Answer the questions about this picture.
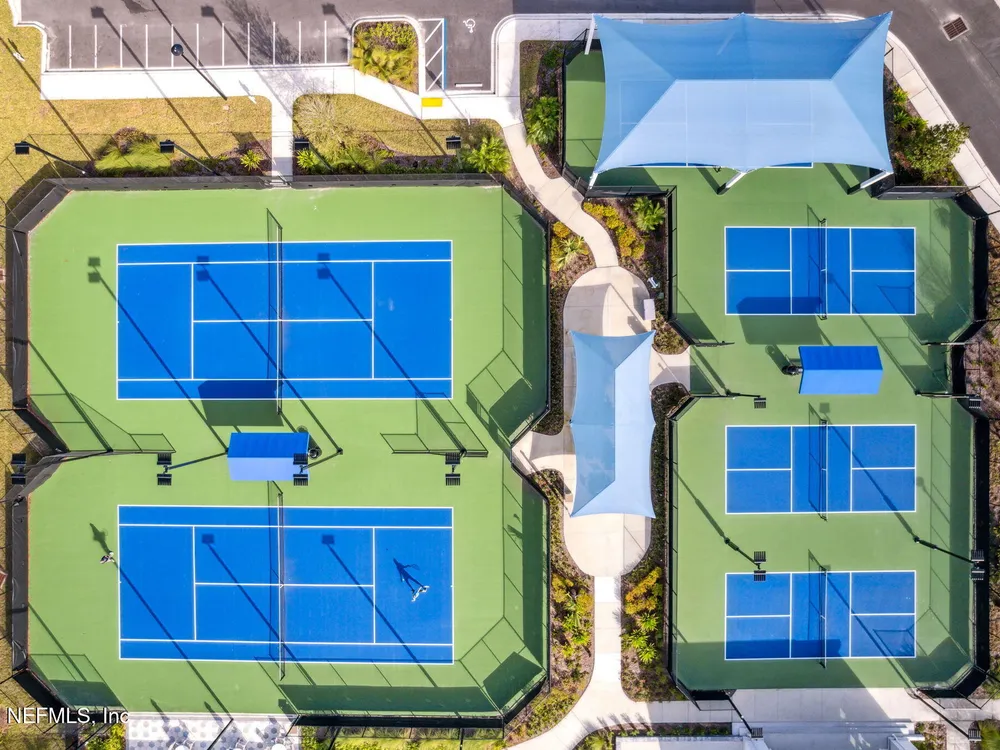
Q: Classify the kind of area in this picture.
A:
sports ground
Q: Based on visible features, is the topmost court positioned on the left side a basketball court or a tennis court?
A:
tennis court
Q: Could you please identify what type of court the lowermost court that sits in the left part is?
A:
tennis court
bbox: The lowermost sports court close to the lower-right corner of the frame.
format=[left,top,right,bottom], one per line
[676,541,974,689]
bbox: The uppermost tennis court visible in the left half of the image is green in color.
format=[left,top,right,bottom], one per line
[27,187,549,450]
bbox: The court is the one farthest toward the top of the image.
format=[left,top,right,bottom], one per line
[562,48,869,197]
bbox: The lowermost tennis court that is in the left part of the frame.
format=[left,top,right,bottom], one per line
[26,450,548,714]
